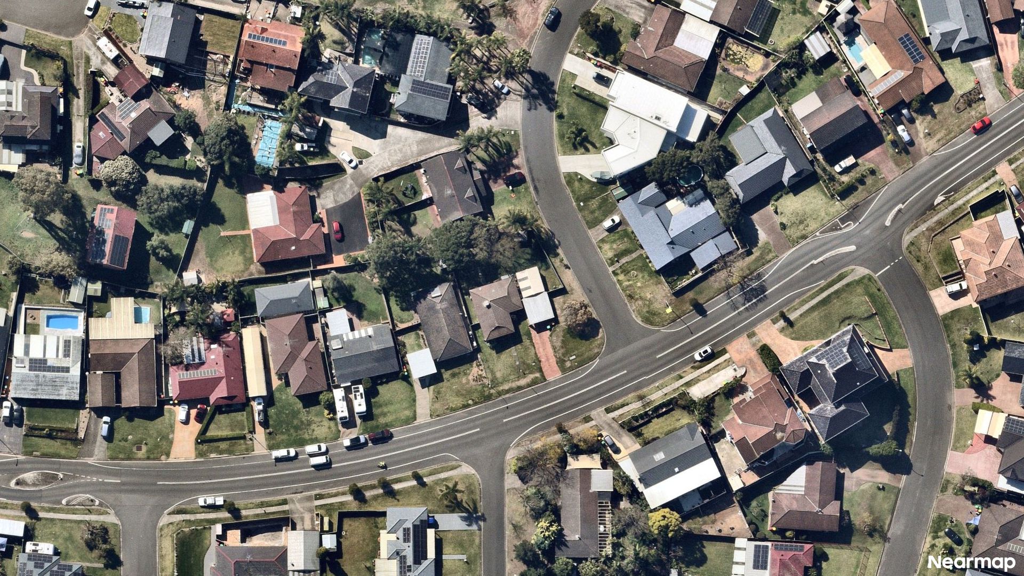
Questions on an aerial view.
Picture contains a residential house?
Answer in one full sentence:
Yes, I can see a residential house in this picture.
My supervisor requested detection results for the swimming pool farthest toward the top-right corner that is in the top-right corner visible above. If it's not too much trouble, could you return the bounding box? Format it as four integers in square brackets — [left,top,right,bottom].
[845,40,864,63]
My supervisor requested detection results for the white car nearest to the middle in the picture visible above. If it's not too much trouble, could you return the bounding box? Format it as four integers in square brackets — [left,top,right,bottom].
[602,216,622,230]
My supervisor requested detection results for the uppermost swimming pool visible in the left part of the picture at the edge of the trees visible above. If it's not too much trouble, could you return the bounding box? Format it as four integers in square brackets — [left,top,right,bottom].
[362,28,384,66]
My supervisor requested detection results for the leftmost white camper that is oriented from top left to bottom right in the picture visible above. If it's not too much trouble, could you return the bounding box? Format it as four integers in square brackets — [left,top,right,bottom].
[96,36,119,60]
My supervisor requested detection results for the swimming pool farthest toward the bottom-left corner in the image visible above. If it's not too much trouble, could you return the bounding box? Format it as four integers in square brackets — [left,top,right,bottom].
[45,314,79,329]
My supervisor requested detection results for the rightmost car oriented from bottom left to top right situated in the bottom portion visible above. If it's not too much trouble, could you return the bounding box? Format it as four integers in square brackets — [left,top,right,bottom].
[694,345,715,361]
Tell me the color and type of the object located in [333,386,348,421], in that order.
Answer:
white camper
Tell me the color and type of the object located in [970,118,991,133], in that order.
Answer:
red car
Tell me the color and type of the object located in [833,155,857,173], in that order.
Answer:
white vehicle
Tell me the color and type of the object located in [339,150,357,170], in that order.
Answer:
white car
